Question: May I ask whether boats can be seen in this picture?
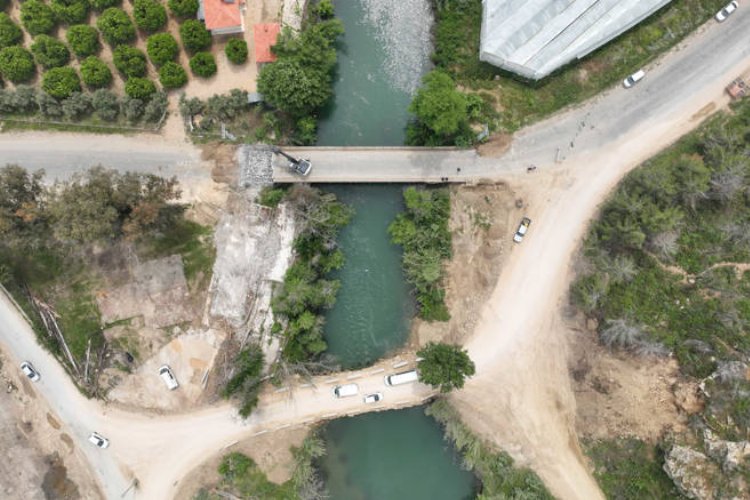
No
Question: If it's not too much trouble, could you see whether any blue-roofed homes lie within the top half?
No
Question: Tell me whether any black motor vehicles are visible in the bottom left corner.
No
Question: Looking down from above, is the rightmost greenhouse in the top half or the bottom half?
top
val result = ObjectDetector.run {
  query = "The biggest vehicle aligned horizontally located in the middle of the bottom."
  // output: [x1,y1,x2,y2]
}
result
[385,370,420,387]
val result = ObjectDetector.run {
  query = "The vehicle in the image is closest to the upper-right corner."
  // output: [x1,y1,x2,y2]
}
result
[715,1,738,21]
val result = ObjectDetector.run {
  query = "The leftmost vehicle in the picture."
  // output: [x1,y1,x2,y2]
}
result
[20,361,41,382]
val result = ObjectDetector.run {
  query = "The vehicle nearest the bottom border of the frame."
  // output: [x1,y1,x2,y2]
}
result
[89,433,111,447]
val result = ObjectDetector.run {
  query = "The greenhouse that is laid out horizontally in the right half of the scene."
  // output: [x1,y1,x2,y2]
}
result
[480,0,678,81]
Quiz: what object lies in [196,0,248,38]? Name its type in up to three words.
house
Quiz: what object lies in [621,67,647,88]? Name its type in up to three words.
vehicle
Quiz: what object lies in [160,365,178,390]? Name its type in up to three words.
vehicle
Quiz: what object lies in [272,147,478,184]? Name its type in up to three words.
bridge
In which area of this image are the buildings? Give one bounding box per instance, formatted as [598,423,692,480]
[196,0,248,38]
[254,23,281,64]
[480,0,678,81]
[245,92,261,105]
